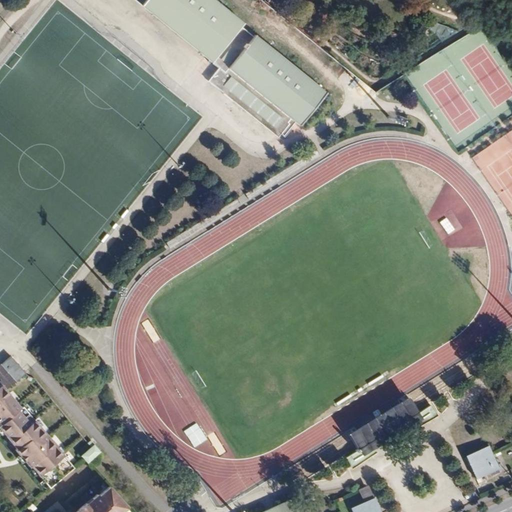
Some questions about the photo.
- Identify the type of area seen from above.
sports ground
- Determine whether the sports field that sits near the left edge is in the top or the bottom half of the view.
top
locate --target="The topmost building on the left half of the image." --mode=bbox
[144,0,246,62]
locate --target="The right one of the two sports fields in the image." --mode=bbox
[148,160,488,457]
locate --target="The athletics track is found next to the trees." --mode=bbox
[116,140,512,510]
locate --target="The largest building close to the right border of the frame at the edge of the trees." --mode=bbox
[464,444,502,480]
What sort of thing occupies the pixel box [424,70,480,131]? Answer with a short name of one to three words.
tennis court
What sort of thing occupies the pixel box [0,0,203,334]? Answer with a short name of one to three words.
sports field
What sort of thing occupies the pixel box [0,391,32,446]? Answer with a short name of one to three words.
house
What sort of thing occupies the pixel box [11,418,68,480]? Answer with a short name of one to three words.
house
